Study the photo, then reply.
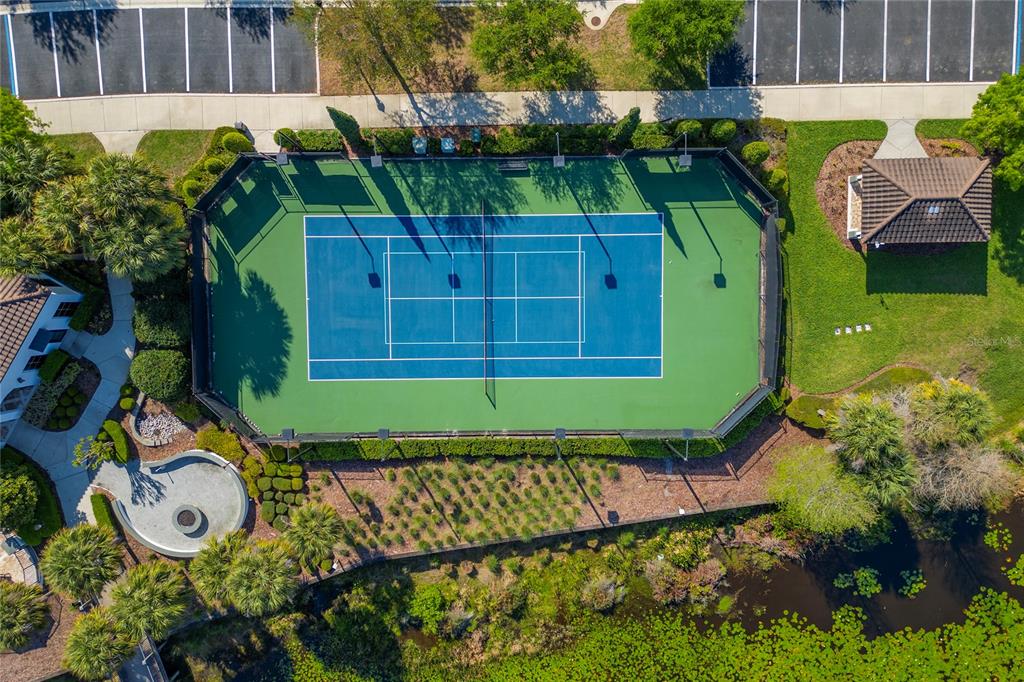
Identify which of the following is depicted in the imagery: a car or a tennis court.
tennis court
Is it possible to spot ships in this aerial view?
No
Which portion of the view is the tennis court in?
center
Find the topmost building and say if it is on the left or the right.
right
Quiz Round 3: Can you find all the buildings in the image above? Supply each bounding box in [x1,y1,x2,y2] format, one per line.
[0,257,81,445]
[851,156,992,246]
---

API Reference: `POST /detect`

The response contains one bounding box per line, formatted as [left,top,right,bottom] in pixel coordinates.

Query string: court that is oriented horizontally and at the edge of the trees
[211,158,761,432]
